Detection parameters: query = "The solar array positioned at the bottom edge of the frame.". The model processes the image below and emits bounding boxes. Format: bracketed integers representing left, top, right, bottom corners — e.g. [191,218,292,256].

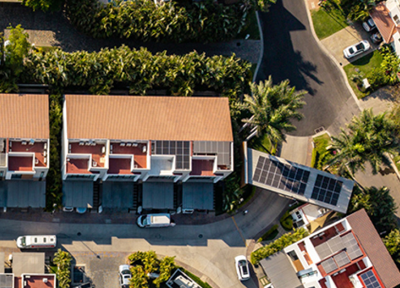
[360,270,381,288]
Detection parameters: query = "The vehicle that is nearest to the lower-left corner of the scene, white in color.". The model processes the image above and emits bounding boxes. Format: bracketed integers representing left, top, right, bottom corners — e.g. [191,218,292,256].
[18,235,55,248]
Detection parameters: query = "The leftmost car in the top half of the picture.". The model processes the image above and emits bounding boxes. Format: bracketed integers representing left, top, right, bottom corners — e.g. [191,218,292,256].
[343,40,369,59]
